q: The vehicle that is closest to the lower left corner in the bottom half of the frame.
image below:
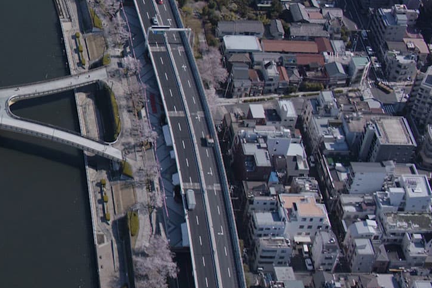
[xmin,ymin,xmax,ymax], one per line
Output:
[188,188,200,212]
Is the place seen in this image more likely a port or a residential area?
residential area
